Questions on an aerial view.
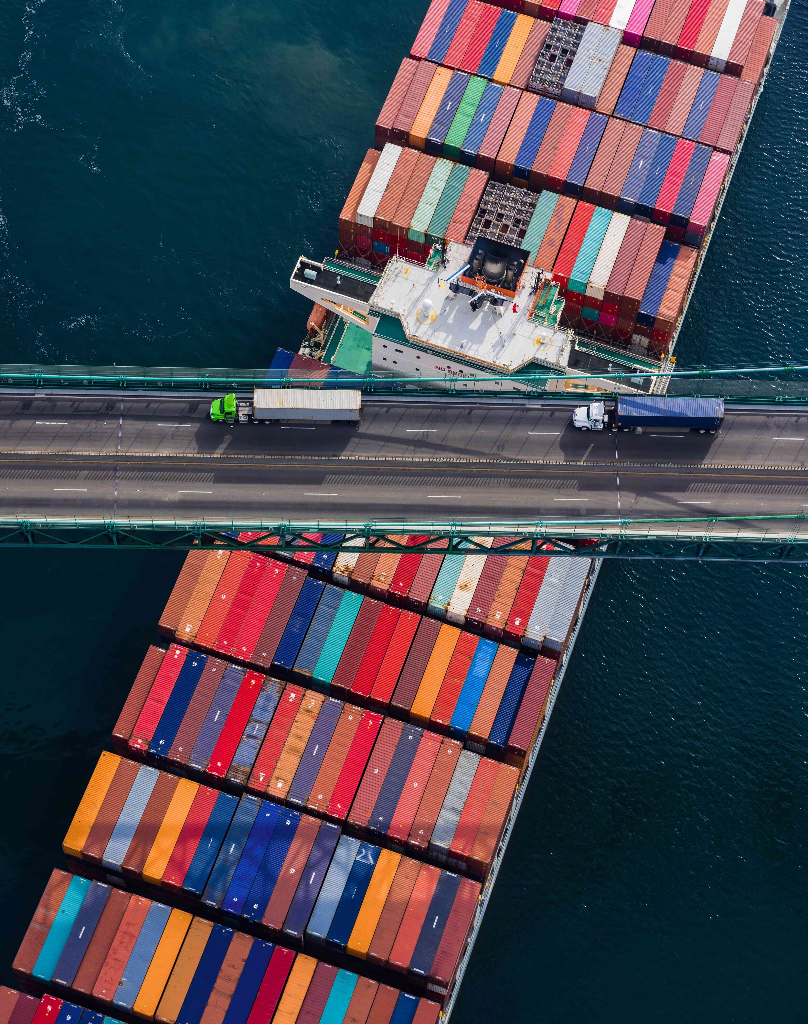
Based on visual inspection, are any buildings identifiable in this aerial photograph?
No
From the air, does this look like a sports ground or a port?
port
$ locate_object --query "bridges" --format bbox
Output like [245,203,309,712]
[0,360,808,563]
